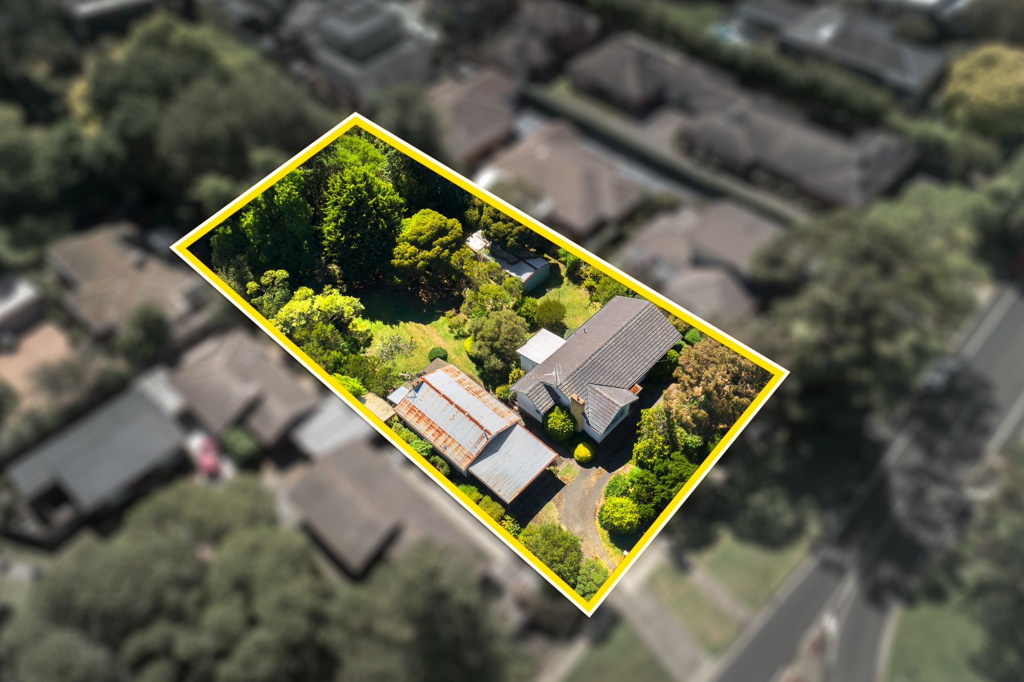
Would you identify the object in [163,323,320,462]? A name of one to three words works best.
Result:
house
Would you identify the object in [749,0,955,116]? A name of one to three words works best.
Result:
house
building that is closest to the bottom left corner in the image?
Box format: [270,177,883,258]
[4,379,193,547]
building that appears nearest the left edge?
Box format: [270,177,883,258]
[0,252,48,338]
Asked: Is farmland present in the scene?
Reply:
No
